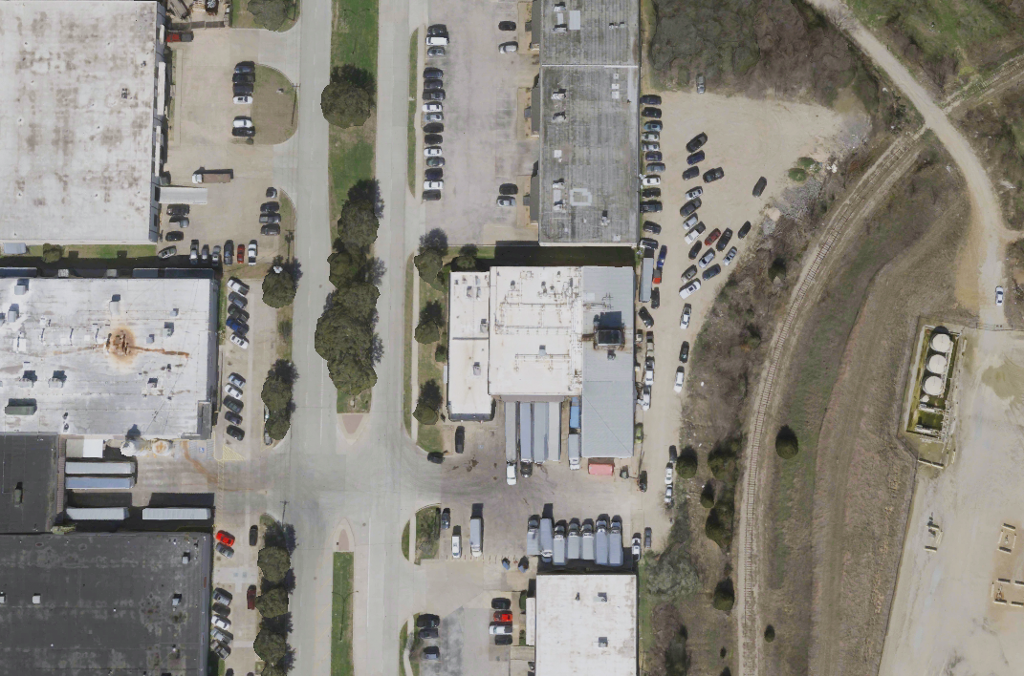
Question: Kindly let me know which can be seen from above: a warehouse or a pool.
warehouse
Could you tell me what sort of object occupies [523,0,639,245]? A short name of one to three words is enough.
building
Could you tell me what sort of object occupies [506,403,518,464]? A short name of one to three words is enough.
vehicle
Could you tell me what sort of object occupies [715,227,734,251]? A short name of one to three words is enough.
vehicle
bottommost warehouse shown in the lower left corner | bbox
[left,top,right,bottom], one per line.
[0,533,211,676]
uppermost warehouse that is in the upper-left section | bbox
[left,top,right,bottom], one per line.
[0,0,212,245]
